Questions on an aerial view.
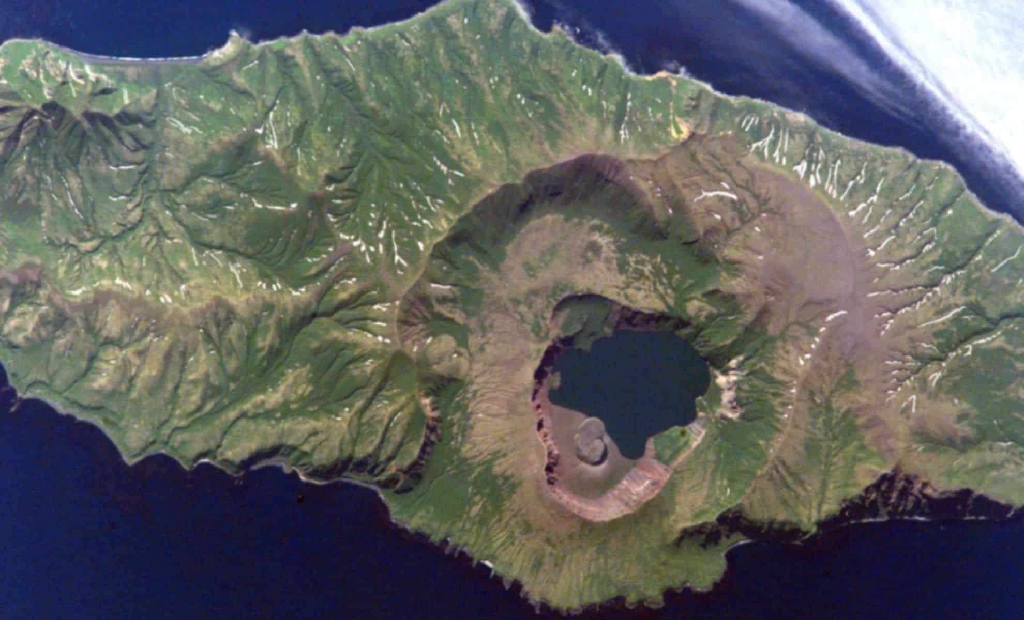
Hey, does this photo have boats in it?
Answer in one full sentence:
No, there is no boat in the image.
